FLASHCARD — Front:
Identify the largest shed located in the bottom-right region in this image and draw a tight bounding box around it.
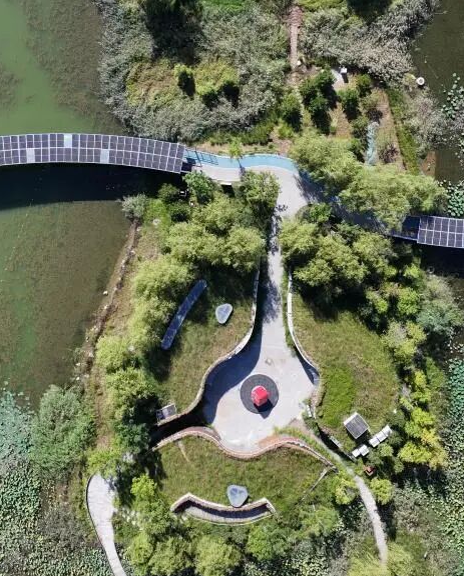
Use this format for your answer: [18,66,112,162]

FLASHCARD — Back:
[339,409,367,436]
